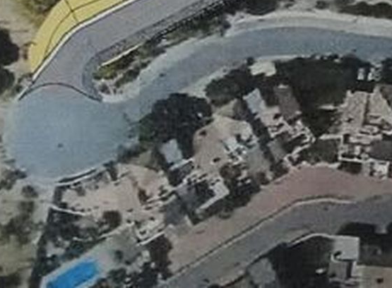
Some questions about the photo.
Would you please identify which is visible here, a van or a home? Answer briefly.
home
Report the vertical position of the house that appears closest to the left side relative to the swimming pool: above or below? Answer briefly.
above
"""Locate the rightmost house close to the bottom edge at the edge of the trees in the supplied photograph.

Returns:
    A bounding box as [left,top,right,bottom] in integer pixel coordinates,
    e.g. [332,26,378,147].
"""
[330,236,392,288]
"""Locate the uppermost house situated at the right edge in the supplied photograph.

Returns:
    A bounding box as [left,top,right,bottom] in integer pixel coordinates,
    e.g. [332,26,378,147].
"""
[330,85,392,160]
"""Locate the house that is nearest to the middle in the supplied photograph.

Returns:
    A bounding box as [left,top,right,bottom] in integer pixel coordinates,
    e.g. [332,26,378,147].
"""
[161,99,267,207]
